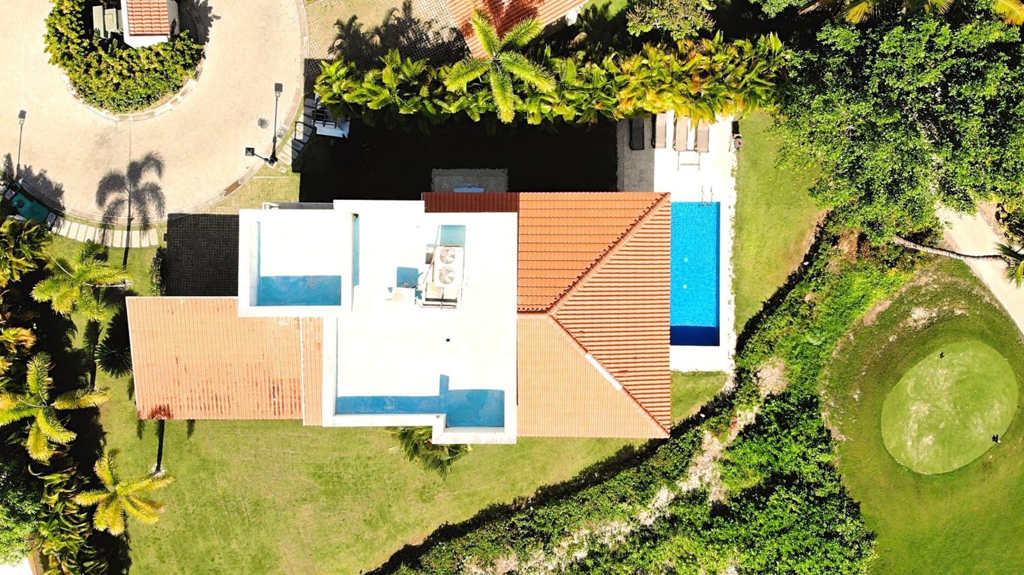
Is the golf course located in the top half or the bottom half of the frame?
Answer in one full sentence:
Seen from above, the golf course lies in the bottom half of the view.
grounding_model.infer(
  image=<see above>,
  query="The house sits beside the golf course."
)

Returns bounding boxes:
[124,188,672,444]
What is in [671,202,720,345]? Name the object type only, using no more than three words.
swimming pool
